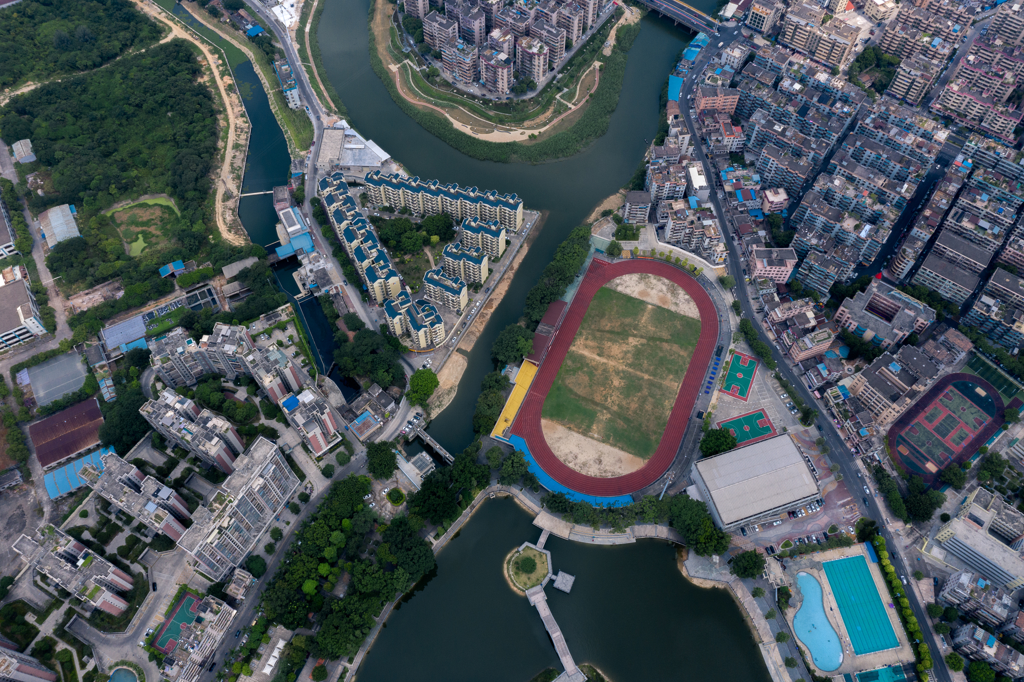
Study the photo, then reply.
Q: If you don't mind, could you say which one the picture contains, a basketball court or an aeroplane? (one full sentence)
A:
Looking from above, you can make out a basketball court.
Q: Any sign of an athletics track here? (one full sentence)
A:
Yes, the photo shows an athletics track.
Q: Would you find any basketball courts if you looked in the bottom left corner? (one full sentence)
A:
Yes, looking in the bottom left corner, one can make out a basketball court.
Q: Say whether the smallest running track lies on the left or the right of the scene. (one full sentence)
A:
The smallest running track appears in the right half of the scene.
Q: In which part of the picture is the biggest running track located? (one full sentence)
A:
The biggest running track appears toward the center of the photo.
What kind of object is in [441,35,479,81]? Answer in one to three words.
building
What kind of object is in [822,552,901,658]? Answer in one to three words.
swimming pool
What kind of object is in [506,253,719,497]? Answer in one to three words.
running track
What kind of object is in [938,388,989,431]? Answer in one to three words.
basketball court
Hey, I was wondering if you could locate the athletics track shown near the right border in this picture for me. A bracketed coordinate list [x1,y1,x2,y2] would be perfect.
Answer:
[886,372,1023,481]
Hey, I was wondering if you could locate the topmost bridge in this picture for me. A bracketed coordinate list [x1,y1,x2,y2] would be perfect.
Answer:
[632,0,731,43]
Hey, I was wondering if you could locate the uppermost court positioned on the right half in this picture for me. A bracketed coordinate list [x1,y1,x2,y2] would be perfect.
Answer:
[718,350,761,401]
